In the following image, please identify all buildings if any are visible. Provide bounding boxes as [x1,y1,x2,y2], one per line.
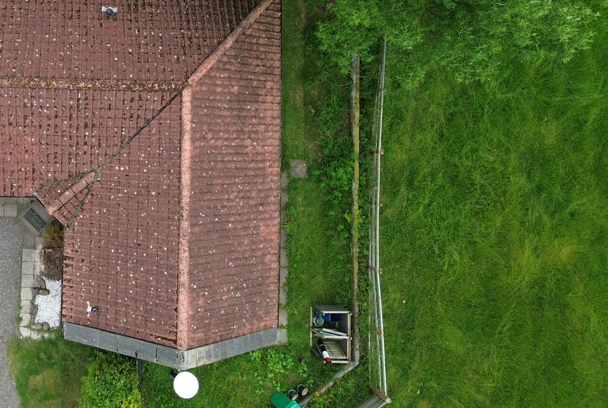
[310,303,352,362]
[0,0,283,369]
